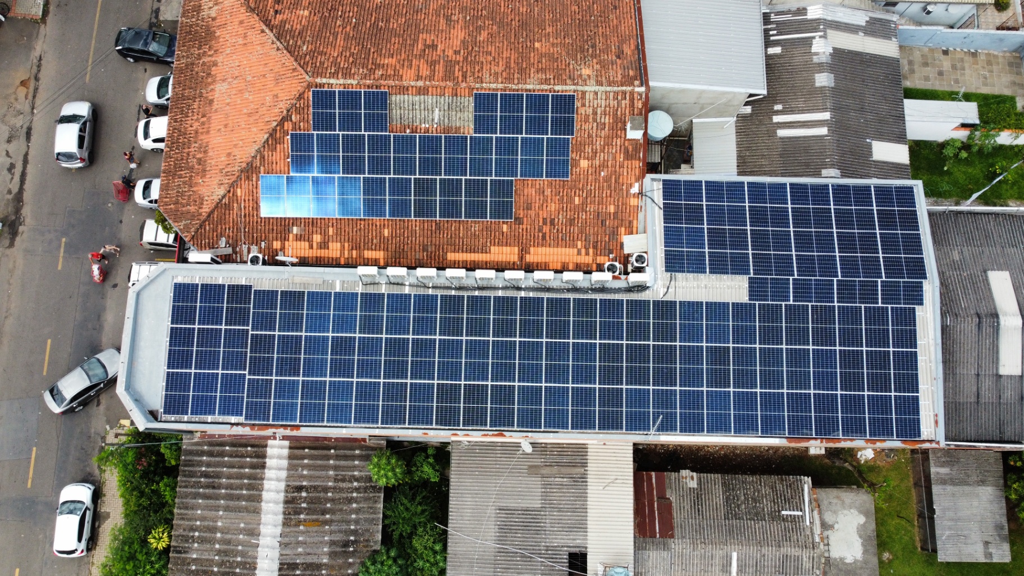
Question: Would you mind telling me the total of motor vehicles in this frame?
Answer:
9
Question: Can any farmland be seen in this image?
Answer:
No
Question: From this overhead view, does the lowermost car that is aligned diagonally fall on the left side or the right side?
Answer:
left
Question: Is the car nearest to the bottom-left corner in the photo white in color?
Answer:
Yes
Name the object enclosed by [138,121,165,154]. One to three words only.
car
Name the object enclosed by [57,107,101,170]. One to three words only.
car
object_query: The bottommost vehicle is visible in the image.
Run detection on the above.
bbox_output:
[54,479,103,563]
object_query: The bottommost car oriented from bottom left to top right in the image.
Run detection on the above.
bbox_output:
[46,351,121,413]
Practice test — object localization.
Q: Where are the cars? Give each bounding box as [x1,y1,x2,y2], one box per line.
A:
[57,107,101,170]
[46,351,121,413]
[135,219,178,254]
[54,479,103,563]
[147,78,170,110]
[138,121,165,154]
[116,33,174,68]
[134,179,159,212]
[120,260,167,290]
